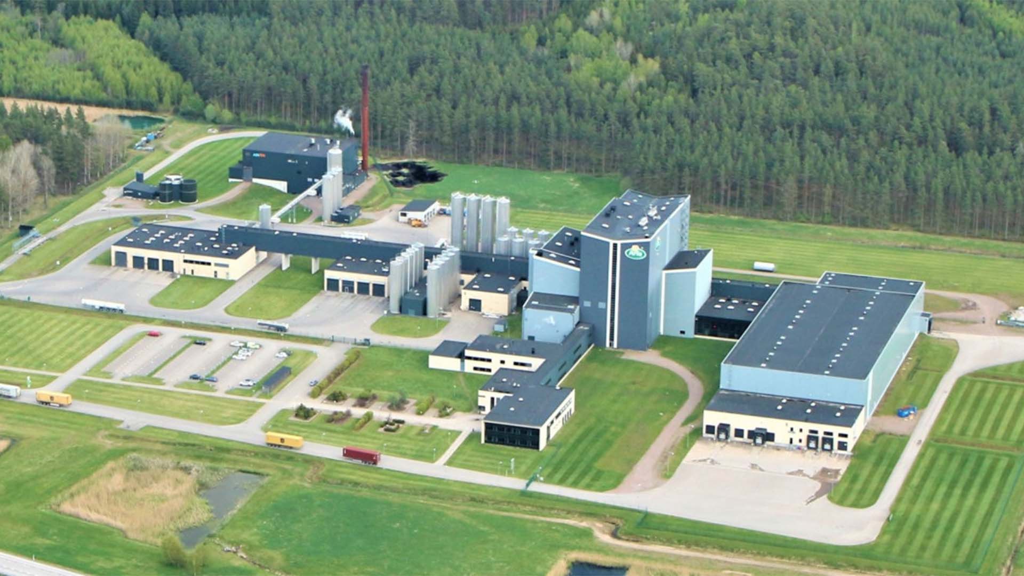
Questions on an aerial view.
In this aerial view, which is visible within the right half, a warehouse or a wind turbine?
warehouse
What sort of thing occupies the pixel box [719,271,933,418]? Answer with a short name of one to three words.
warehouse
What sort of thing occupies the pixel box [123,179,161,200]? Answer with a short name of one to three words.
shed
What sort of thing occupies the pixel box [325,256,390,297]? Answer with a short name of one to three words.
building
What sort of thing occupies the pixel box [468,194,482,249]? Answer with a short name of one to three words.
silo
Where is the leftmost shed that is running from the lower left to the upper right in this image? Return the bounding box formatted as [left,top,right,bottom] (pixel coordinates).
[262,368,295,395]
